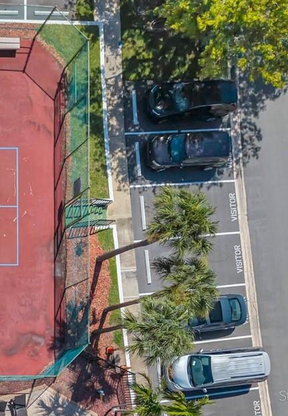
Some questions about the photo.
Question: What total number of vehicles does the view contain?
4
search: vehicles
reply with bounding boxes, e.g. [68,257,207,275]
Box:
[139,126,234,174]
[139,72,238,124]
[186,292,260,337]
[163,349,271,393]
